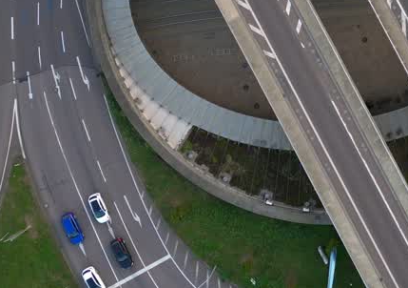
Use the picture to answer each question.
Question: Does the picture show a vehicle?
Yes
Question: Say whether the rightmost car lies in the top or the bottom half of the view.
bottom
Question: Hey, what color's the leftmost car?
blue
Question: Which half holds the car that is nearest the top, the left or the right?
left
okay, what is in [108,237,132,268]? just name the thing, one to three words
car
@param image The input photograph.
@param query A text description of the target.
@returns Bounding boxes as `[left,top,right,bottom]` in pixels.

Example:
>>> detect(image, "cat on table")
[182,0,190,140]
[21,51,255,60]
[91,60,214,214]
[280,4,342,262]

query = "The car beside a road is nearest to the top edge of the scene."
[84,192,108,223]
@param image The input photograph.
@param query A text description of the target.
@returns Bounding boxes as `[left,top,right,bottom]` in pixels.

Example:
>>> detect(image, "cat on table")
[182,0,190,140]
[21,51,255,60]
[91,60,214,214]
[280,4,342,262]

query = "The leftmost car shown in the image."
[61,212,84,244]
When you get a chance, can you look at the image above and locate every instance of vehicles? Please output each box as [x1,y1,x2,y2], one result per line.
[80,267,106,288]
[108,237,132,268]
[61,212,84,244]
[84,192,108,223]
